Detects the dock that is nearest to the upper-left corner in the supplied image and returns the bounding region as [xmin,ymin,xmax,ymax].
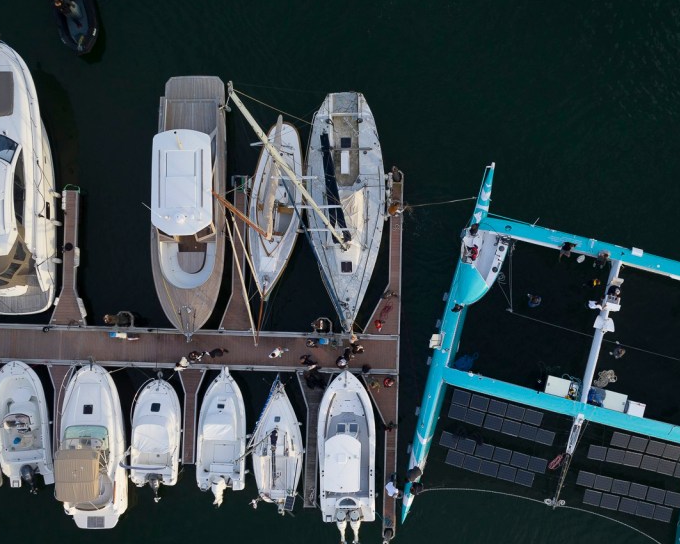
[50,183,90,325]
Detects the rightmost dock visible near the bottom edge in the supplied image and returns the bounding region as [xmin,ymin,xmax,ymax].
[364,373,400,540]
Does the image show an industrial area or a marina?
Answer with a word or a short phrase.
marina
